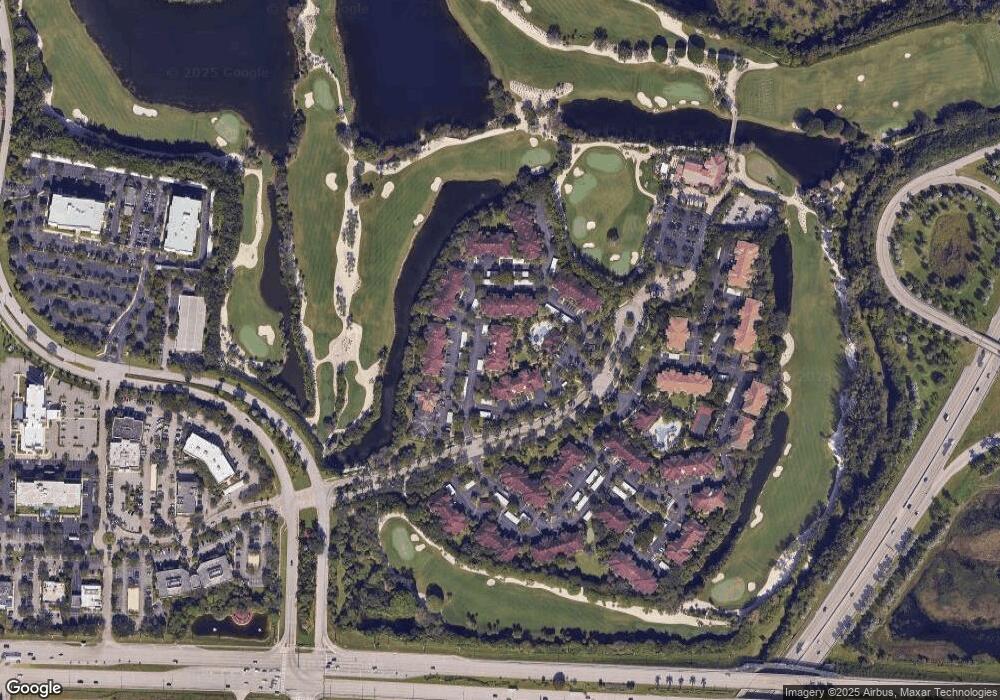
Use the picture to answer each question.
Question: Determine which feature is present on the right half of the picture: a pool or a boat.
pool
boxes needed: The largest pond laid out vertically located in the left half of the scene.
[260,182,306,410]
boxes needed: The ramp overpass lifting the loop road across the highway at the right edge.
[936,320,1000,356]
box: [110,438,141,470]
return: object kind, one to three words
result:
building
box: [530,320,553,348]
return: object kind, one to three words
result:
swimming pool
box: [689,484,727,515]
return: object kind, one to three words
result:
building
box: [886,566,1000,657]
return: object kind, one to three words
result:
pond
